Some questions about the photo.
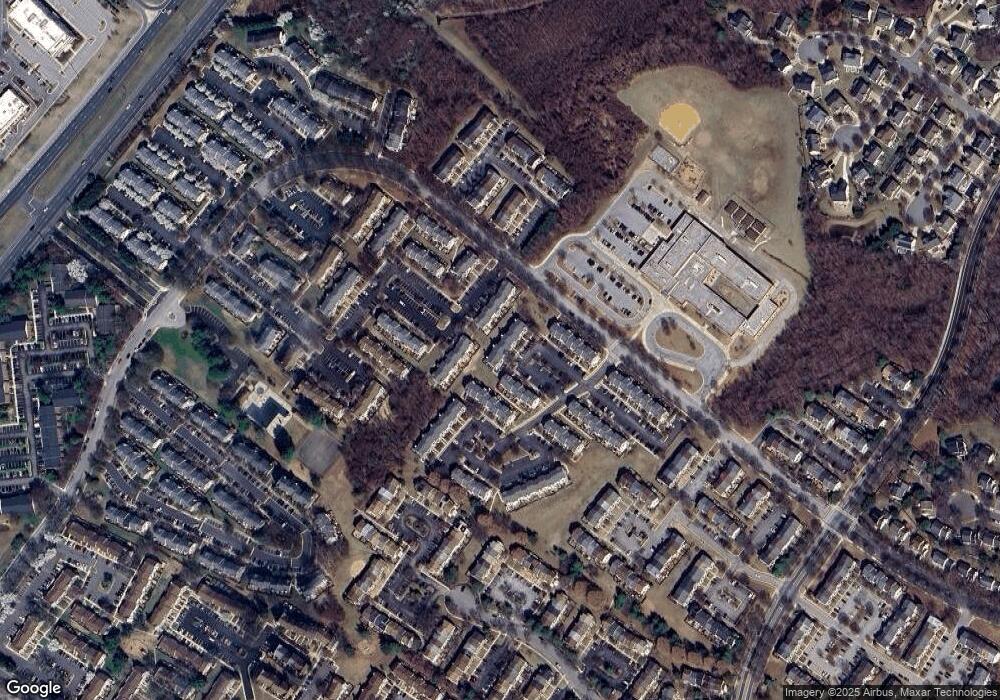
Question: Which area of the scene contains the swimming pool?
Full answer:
The swimming pool is located in the left region of the scene.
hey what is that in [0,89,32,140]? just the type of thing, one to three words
building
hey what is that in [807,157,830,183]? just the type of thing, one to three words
house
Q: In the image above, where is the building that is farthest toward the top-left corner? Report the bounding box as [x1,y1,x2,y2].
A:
[9,0,77,58]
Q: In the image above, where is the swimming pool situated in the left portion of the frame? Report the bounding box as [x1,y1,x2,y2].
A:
[242,380,296,438]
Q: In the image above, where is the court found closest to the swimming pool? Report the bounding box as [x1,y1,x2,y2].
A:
[299,430,342,475]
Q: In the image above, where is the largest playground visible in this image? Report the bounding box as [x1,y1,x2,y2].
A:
[119,630,155,660]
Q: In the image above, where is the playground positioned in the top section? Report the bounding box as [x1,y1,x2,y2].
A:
[679,157,705,188]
